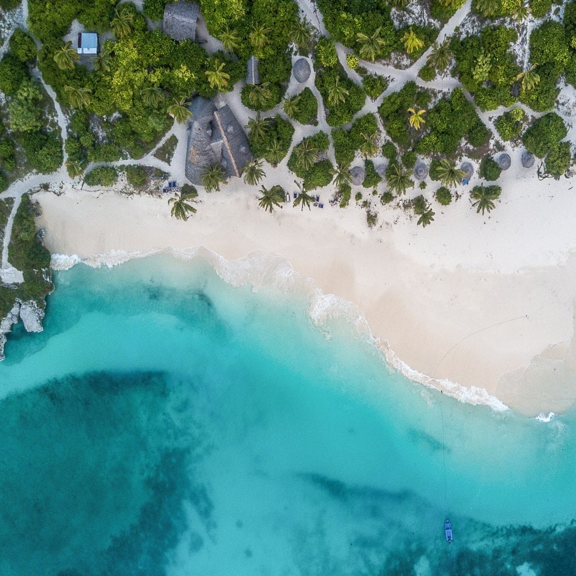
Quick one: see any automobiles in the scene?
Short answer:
No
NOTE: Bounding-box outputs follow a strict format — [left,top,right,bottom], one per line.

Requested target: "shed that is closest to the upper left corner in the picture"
[78,34,99,54]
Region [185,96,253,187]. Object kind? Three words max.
building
